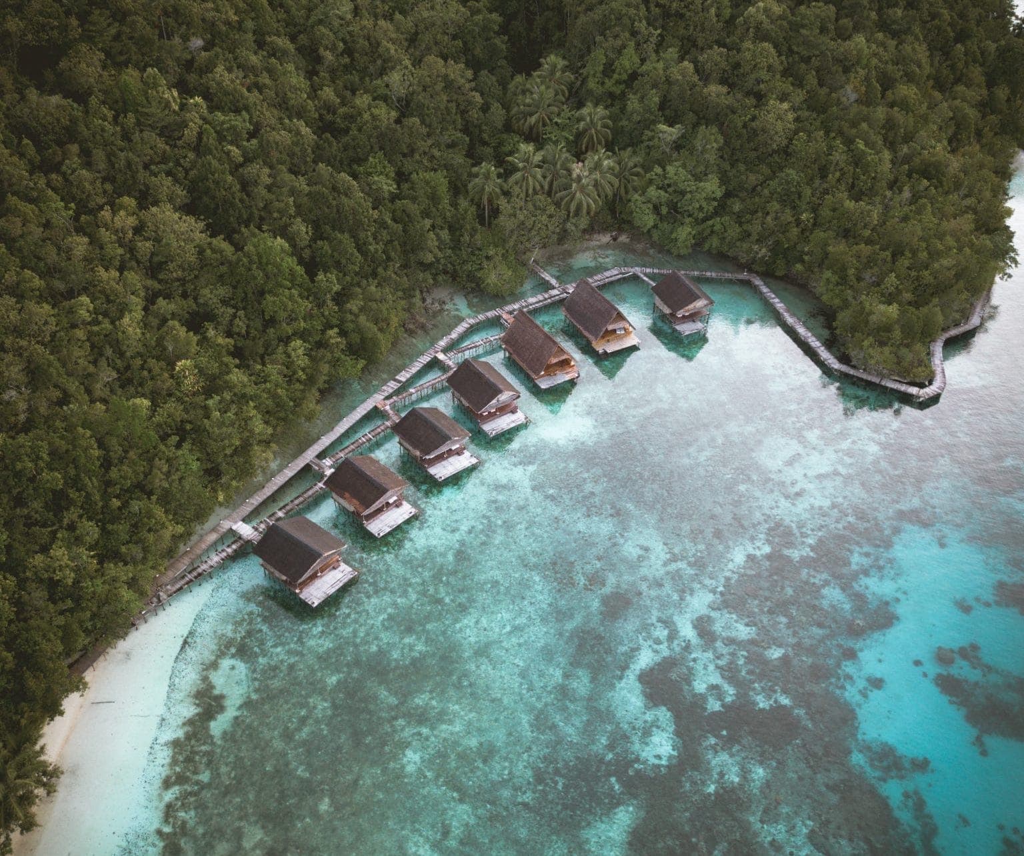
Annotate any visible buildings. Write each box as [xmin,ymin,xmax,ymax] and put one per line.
[446,364,529,442]
[502,311,584,396]
[392,407,479,487]
[564,280,641,359]
[254,515,362,611]
[651,275,713,345]
[323,457,421,543]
